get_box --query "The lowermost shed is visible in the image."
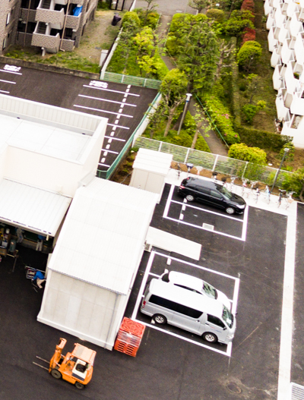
[36,172,163,351]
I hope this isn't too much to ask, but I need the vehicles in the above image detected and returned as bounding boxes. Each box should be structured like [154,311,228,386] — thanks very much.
[177,176,251,215]
[142,282,235,345]
[26,338,100,392]
[160,271,245,325]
